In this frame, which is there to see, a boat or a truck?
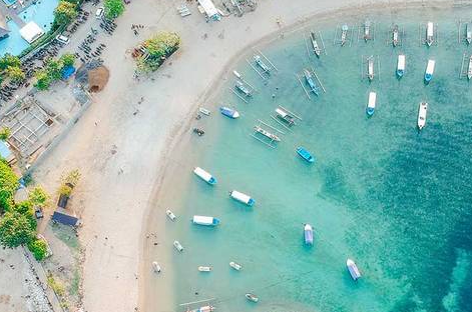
boat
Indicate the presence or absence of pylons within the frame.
No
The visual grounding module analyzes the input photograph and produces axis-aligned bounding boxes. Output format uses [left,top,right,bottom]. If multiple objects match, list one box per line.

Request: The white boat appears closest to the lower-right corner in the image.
[349,259,362,281]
